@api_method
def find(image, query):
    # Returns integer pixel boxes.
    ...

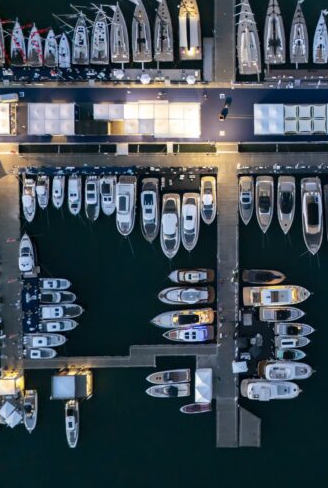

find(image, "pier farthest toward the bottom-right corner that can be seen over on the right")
[239,404,261,447]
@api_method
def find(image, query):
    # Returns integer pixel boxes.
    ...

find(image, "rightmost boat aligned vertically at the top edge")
[312,9,328,64]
